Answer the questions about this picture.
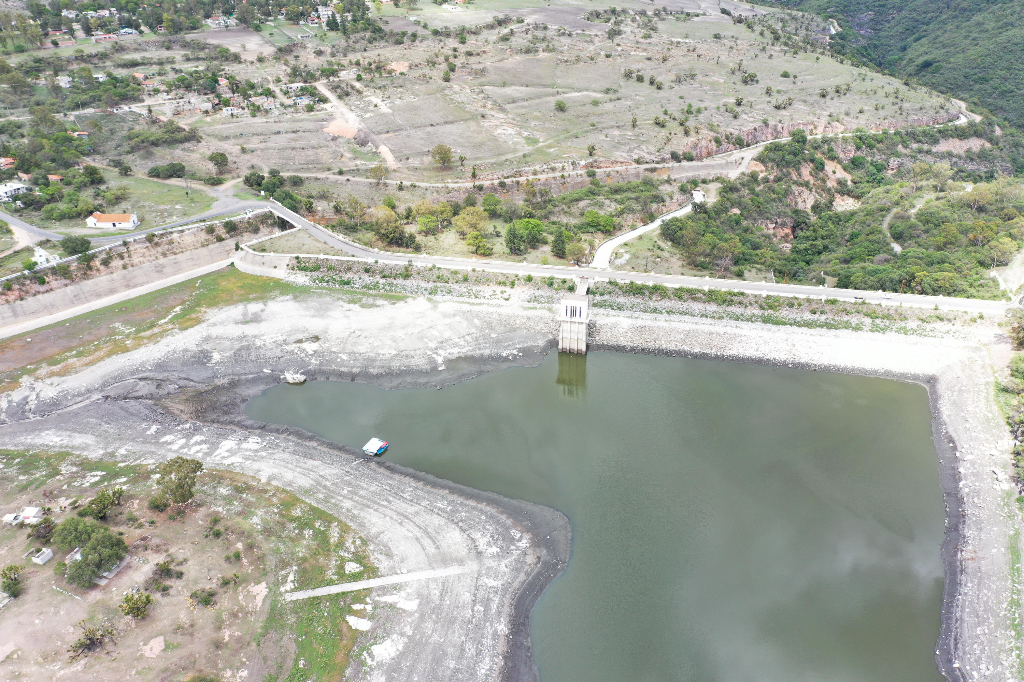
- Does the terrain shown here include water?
Yes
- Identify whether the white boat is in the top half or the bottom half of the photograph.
bottom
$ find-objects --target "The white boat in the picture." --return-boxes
[362,438,384,458]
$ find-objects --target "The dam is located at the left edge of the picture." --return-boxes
[0,260,236,341]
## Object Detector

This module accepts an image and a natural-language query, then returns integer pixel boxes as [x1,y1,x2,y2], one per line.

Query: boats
[362,438,384,458]
[379,442,392,455]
